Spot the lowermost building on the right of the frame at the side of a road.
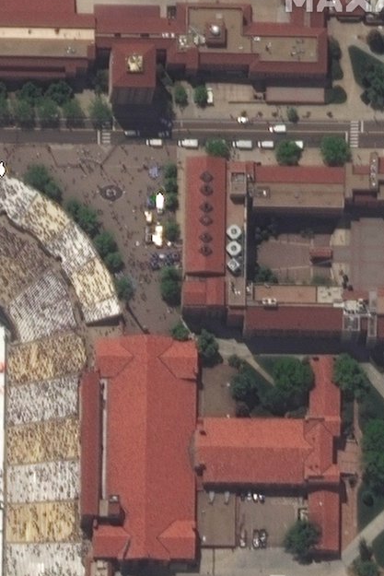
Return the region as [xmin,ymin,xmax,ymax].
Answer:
[196,353,340,554]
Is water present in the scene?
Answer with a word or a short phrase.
No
